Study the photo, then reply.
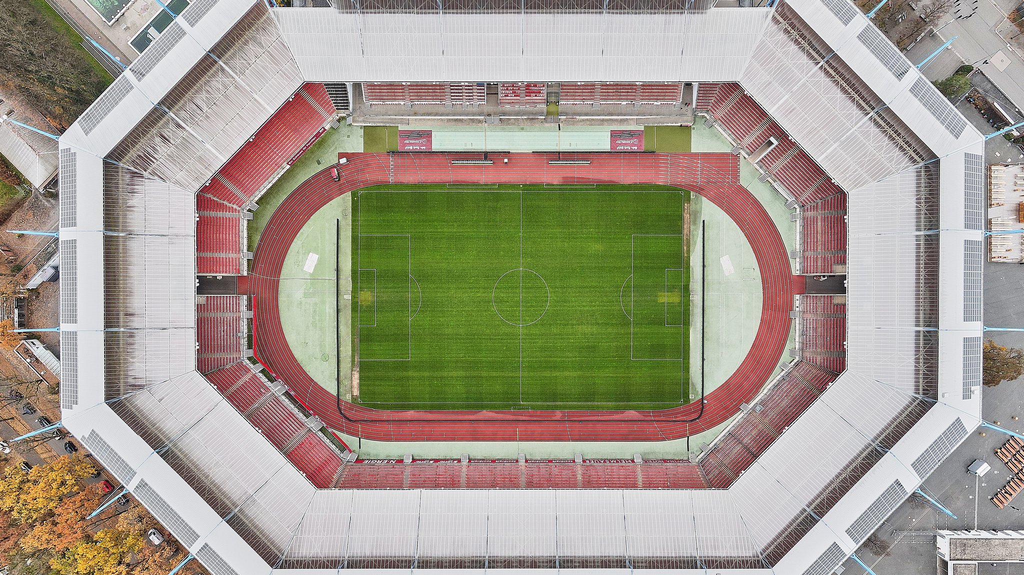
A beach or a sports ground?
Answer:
sports ground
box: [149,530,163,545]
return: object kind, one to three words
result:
vehicle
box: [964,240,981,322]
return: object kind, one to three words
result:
solar array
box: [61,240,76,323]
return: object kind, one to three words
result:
solar array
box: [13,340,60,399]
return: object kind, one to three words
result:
shed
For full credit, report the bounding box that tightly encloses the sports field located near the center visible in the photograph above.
[351,183,691,411]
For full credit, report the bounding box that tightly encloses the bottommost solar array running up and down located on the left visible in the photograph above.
[62,331,77,409]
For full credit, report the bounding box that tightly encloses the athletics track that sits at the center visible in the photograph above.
[248,153,794,441]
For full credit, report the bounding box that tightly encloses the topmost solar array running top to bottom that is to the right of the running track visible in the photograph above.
[965,152,982,230]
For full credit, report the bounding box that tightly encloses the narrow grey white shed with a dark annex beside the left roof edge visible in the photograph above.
[27,256,59,289]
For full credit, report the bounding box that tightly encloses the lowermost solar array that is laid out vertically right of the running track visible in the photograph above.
[963,337,980,399]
